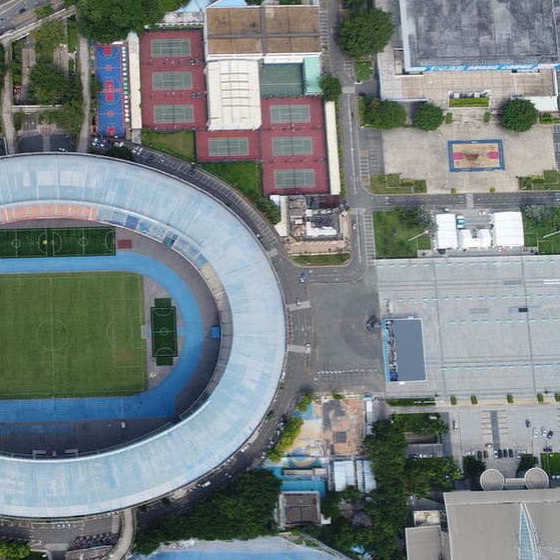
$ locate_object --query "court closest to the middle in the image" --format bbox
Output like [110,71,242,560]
[274,169,315,189]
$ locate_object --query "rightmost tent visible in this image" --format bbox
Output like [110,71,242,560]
[487,211,524,249]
